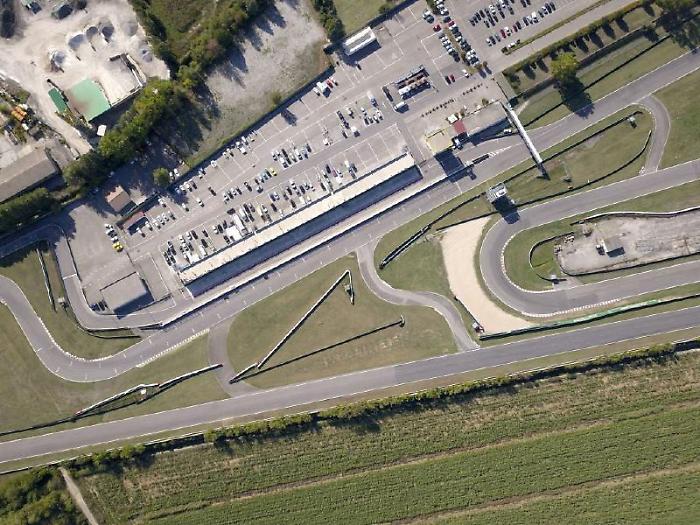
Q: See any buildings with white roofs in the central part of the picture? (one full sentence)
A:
Yes, there is a building with a white roof in the central part of the picture.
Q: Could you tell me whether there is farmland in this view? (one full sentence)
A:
Yes, there is farmland in the image.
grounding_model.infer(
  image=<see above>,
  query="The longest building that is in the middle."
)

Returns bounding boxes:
[181,152,414,284]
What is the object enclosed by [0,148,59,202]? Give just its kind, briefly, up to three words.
building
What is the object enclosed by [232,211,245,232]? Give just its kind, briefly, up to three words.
vehicle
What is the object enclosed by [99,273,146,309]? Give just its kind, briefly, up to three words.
building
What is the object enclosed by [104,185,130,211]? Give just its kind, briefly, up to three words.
house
